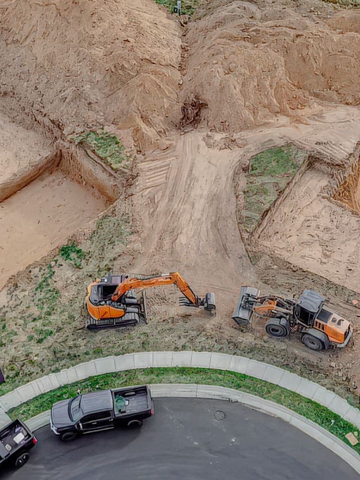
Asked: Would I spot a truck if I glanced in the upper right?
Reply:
No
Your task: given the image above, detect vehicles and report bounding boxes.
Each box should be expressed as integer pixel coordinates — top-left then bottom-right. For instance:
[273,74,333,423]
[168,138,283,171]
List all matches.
[87,269,214,329]
[0,421,33,480]
[231,288,352,352]
[50,382,154,440]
